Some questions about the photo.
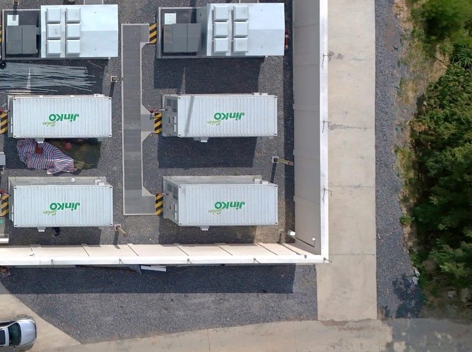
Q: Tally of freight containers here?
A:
4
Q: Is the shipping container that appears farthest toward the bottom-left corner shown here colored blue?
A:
No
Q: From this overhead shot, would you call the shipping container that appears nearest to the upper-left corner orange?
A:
No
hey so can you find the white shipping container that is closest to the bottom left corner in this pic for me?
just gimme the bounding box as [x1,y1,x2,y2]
[6,174,113,232]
